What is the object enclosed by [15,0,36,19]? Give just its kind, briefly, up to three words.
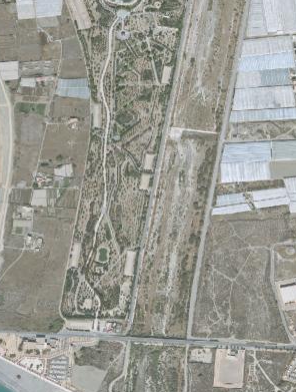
greenhouse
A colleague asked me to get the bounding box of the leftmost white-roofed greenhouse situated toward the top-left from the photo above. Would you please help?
[0,62,18,81]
